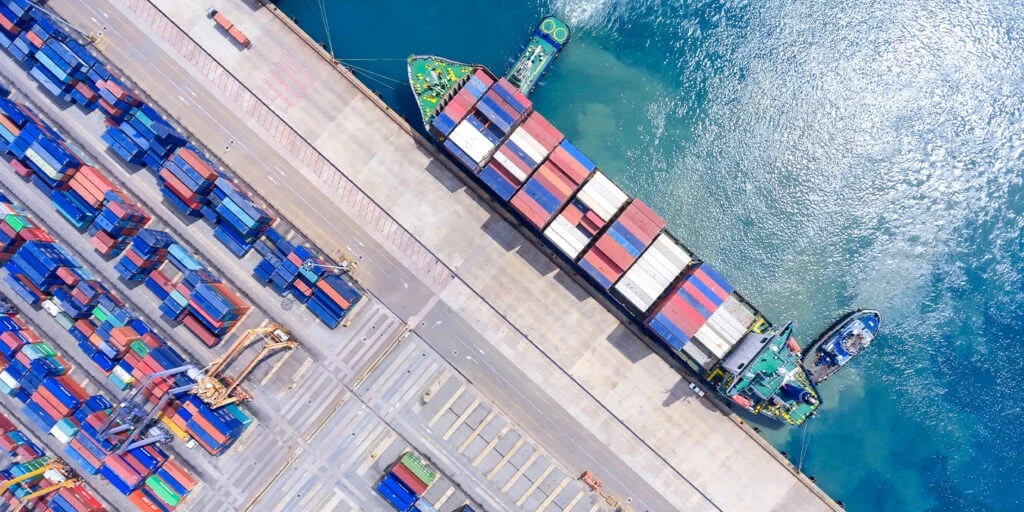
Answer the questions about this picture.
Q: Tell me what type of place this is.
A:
port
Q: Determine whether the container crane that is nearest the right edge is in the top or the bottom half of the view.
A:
bottom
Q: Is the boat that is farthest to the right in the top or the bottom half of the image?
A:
bottom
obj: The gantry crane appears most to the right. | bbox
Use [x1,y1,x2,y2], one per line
[196,321,298,414]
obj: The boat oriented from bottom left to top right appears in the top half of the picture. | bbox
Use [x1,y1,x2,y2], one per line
[502,16,569,100]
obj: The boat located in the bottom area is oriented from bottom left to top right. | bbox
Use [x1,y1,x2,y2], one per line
[806,309,882,390]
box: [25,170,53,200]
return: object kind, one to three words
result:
shipping container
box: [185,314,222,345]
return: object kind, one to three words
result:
shipping container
